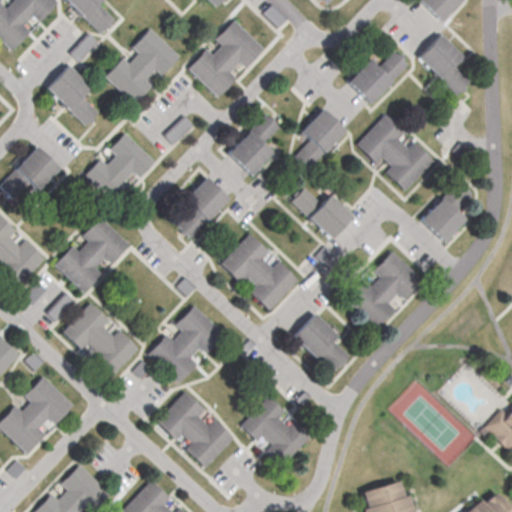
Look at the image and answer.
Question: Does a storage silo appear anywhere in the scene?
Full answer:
No, there appears to be no storage silo in this shot.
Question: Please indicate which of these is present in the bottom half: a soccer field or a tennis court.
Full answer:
The feature located in the bottom half is a tennis court.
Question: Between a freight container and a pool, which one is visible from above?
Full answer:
It is a pool that can be seen here.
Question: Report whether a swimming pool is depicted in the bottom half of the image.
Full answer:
Yes, a swimming pool shows up in the bottom half of the image.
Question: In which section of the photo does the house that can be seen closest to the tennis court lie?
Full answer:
The house that can be seen closest to the tennis court sits in the bottom right section of the image.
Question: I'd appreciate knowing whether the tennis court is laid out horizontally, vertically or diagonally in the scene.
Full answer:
What the image shows is the tennis court lying diagonally.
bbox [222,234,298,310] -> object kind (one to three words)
house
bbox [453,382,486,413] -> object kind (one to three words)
swimming pool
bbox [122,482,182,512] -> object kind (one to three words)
house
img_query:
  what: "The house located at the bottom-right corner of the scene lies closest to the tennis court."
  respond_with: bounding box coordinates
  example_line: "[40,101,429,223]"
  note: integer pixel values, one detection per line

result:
[476,408,512,452]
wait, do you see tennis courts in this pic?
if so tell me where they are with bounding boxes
[388,380,474,465]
